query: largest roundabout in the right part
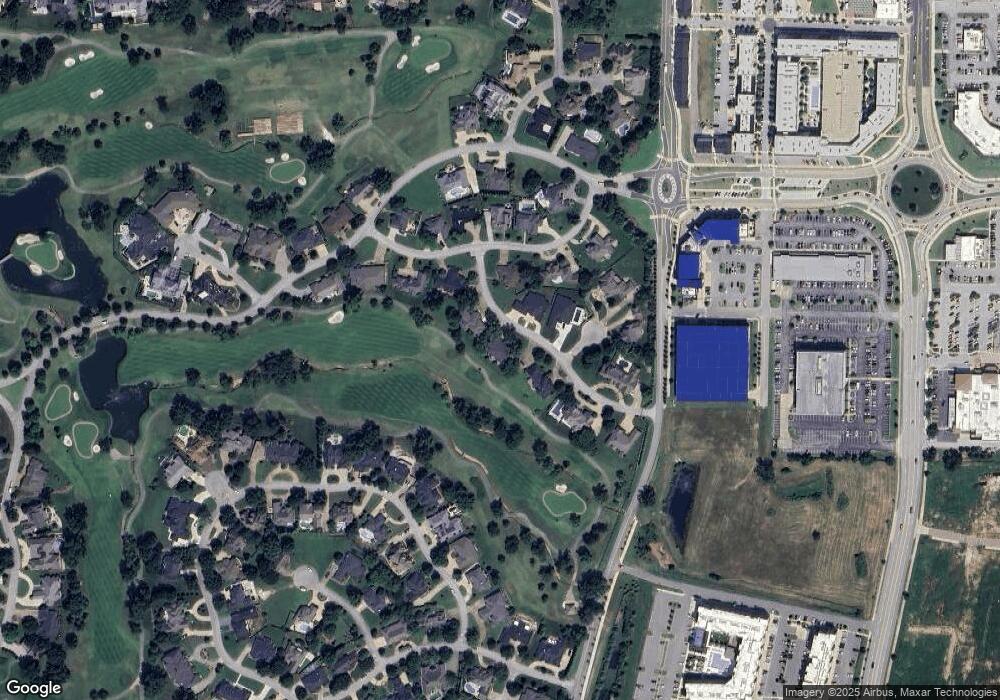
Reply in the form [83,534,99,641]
[881,154,954,226]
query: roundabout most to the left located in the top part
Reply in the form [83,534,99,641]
[650,165,683,211]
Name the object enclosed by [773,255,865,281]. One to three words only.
building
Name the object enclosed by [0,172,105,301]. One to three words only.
pond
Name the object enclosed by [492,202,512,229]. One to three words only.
house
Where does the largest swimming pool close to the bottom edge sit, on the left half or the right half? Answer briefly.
right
